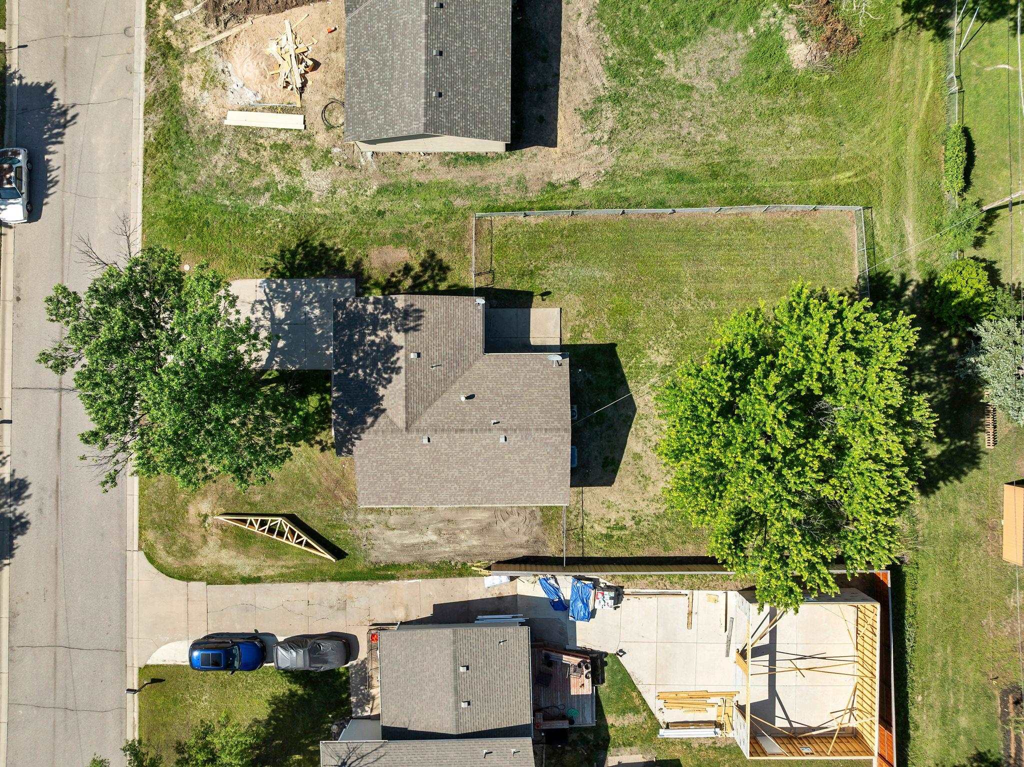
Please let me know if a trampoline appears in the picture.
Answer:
No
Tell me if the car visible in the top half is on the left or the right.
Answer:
left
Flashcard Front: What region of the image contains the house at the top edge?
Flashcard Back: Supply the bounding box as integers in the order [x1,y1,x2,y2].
[345,0,511,152]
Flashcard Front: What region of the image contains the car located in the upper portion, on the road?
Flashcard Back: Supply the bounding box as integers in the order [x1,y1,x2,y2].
[0,148,36,225]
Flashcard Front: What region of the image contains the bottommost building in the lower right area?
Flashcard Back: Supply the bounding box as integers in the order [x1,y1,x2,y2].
[735,589,879,758]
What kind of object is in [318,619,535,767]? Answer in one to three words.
house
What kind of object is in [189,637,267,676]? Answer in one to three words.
car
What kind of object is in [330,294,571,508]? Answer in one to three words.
house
